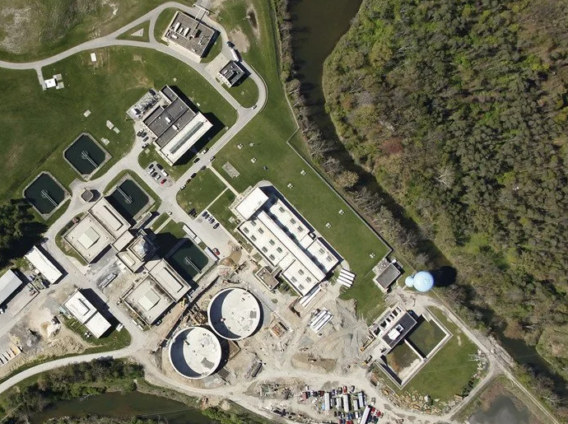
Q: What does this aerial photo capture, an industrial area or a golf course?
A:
industrial area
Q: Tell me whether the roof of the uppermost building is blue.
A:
No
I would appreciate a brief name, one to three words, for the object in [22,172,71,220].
water tank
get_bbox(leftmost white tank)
[168,326,223,379]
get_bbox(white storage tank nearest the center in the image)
[207,286,263,340]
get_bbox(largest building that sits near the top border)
[161,10,215,64]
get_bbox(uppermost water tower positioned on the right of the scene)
[404,272,434,292]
